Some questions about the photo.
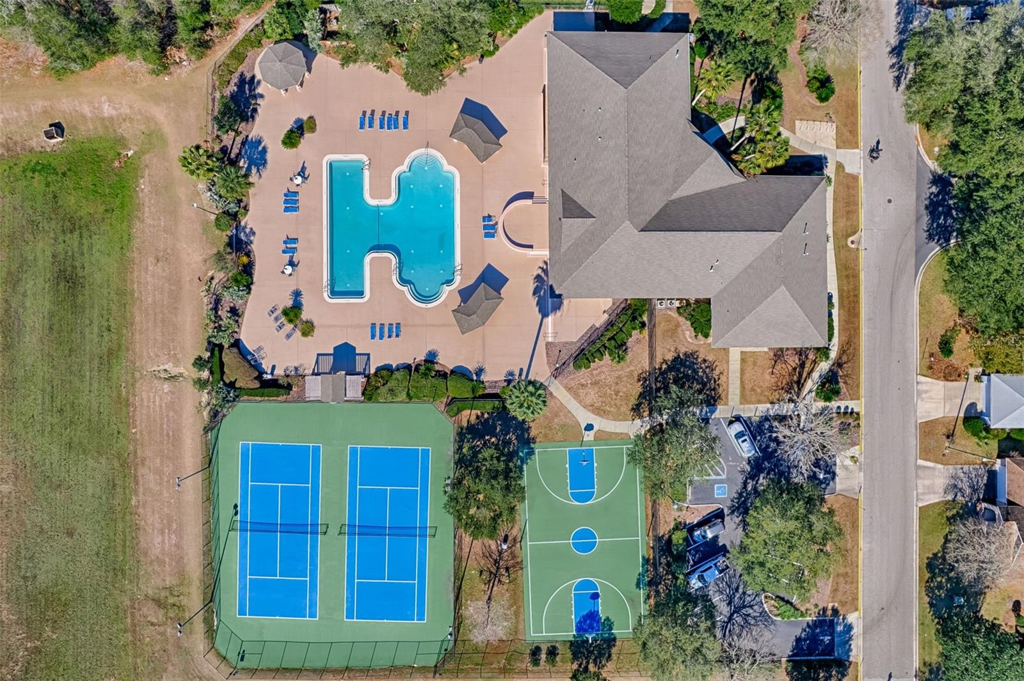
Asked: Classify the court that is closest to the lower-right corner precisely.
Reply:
basketball court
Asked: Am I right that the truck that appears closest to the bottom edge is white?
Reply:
No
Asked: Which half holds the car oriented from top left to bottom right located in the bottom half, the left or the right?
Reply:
right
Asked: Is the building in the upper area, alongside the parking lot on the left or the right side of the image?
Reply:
right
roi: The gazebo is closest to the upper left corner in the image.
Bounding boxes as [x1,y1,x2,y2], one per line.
[259,42,314,98]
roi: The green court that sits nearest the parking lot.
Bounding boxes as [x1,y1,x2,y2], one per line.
[519,439,650,642]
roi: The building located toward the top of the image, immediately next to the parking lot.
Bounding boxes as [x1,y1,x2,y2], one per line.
[547,31,827,348]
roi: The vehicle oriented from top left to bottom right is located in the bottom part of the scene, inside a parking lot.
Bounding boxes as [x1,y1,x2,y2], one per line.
[728,421,759,458]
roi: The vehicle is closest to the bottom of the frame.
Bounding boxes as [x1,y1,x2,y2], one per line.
[687,555,731,590]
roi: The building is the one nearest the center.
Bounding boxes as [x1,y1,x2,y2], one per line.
[452,282,504,335]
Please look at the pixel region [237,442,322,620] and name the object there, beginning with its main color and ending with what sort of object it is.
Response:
blue tennis court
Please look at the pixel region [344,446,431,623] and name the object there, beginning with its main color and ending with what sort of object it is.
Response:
blue tennis court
